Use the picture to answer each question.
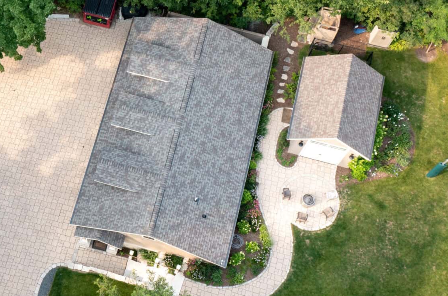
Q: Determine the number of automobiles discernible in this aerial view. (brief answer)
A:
0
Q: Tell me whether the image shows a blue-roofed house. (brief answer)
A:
No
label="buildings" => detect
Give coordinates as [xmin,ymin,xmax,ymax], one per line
[284,53,386,170]
[69,17,275,269]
